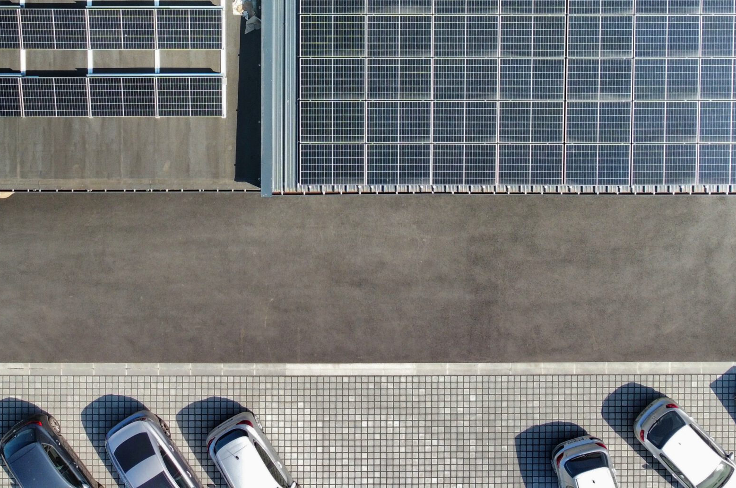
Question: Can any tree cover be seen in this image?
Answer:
No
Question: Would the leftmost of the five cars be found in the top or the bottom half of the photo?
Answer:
bottom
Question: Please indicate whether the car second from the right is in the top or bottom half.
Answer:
bottom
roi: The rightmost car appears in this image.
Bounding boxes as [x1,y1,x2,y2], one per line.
[634,398,736,488]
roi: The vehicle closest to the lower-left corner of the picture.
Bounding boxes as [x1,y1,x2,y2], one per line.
[0,414,100,488]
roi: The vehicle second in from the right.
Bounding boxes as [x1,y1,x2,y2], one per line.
[553,440,623,488]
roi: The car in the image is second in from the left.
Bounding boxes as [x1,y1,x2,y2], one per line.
[106,414,201,488]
